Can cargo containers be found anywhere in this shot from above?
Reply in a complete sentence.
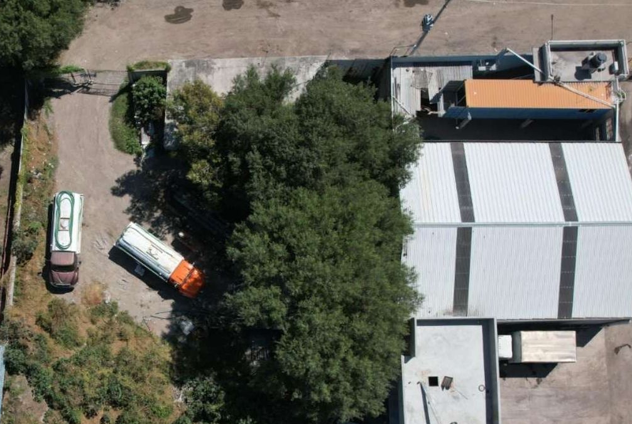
Yes, a cargo container can be made out from above.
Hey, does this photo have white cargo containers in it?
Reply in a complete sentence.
No, the picture doesn't show any white cargo container.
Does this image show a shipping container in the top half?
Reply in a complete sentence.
Yes, a shipping container can be seen in the top half.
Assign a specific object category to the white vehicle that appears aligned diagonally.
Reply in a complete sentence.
Specifically, the white vehicle that appears aligned diagonally is a truck.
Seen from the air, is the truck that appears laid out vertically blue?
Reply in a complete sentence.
No, the color of the truck that appears laid out vertically is white.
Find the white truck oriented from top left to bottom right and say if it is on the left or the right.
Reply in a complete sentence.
You can find the white truck oriented from top left to bottom right on the left side of the picture.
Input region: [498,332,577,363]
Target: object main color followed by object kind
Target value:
white truck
